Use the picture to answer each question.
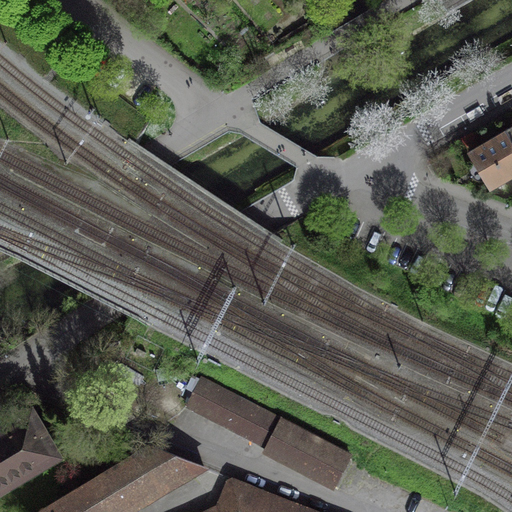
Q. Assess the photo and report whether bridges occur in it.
Yes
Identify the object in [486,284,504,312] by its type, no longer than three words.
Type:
vehicle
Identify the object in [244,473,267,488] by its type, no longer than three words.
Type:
car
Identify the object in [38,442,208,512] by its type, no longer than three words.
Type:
building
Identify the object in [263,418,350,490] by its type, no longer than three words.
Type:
shed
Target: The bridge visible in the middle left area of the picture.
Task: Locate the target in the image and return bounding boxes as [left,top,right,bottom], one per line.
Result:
[0,241,153,326]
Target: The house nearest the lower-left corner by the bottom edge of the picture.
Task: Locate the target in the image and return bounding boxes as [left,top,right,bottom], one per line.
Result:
[0,407,62,497]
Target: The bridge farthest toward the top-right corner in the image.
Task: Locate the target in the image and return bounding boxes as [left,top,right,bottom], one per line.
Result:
[242,122,316,168]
